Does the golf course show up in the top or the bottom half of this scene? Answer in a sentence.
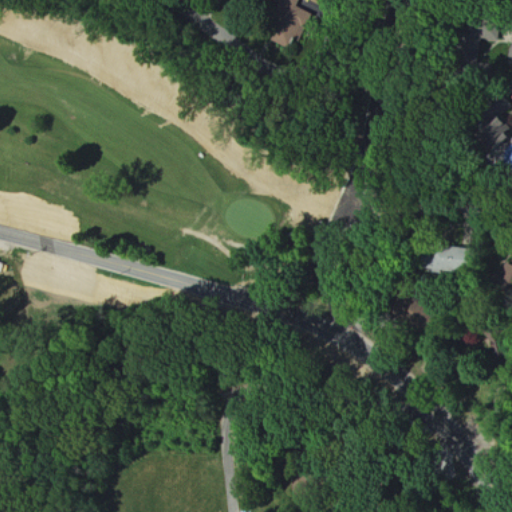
The top half of the photo is where the golf course is.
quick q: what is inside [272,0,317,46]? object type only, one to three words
house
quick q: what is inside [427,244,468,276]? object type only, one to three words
house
